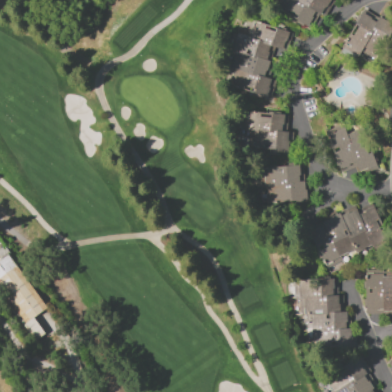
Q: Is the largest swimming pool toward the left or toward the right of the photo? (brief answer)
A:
right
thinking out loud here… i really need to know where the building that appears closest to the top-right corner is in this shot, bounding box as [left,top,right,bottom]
[344,8,392,56]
